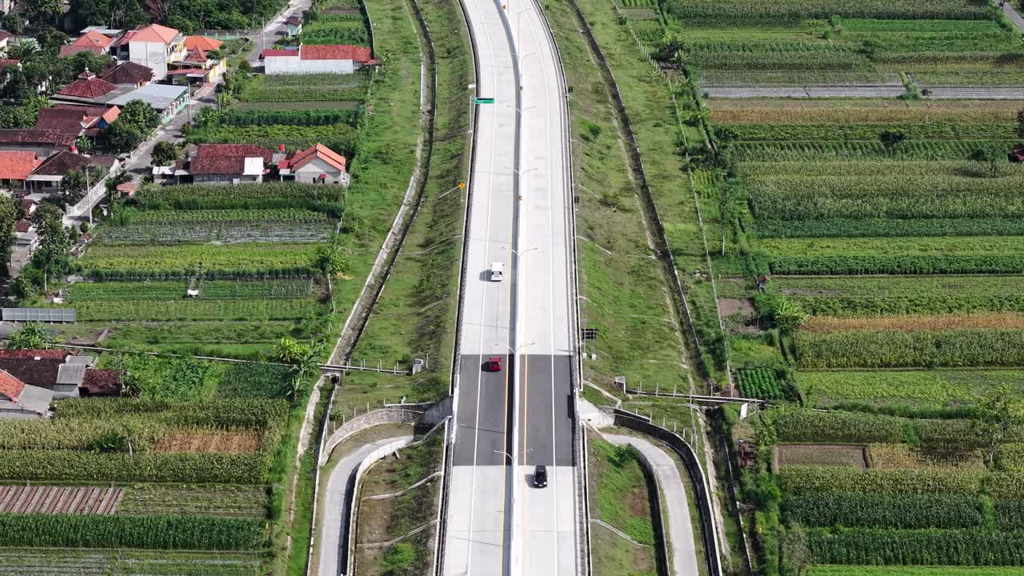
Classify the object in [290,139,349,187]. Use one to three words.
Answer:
house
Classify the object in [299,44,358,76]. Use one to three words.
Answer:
building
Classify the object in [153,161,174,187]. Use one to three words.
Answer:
shed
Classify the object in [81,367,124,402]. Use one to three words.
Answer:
house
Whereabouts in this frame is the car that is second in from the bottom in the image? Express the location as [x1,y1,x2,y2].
[487,354,501,369]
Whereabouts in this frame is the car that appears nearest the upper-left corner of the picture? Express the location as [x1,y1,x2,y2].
[490,263,504,279]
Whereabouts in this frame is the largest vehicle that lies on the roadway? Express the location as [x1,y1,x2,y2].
[532,460,549,483]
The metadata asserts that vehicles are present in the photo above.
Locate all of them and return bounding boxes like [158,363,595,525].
[532,460,549,483]
[490,263,504,279]
[487,354,501,369]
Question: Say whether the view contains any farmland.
Yes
